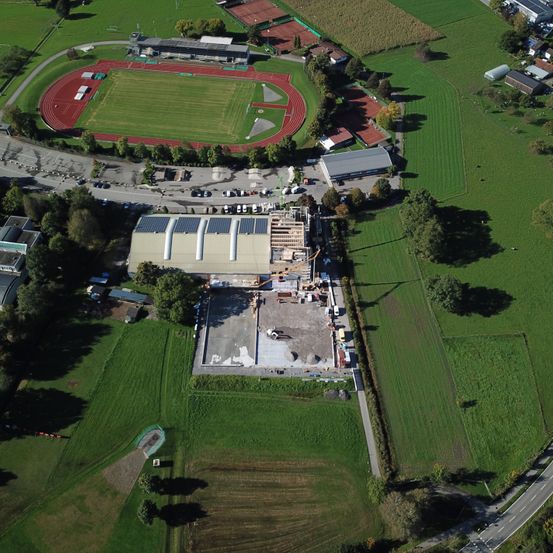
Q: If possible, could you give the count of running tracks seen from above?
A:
one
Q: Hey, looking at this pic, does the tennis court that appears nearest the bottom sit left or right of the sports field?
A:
to the right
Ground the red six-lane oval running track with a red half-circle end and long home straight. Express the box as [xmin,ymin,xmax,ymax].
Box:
[37,58,306,154]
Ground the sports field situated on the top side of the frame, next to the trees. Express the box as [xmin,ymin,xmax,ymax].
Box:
[73,68,291,144]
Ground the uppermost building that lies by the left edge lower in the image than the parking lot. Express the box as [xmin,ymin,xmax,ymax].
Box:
[0,215,41,281]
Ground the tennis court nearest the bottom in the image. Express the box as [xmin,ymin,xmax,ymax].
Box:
[354,121,390,148]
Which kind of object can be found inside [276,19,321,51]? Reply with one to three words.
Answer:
tennis court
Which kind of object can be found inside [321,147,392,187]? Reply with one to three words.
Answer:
building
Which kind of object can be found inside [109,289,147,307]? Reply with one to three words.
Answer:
shed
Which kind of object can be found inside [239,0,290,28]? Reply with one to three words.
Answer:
tennis court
